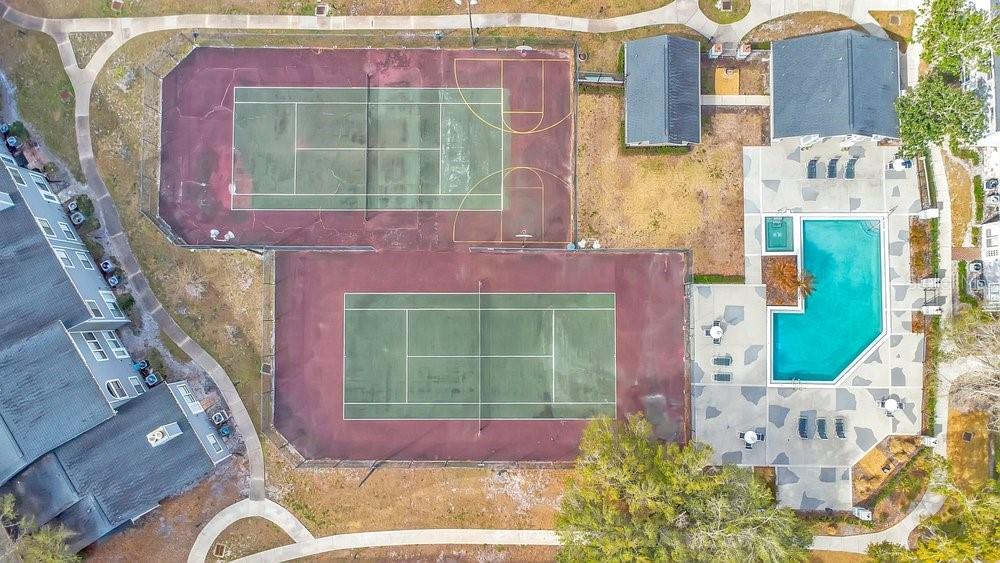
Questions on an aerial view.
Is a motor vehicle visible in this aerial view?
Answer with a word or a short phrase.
No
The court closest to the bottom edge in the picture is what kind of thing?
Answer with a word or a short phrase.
tennis court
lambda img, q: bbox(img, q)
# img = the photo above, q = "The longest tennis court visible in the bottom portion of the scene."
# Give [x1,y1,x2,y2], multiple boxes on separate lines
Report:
[272,250,690,462]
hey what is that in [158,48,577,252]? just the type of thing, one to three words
tennis court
